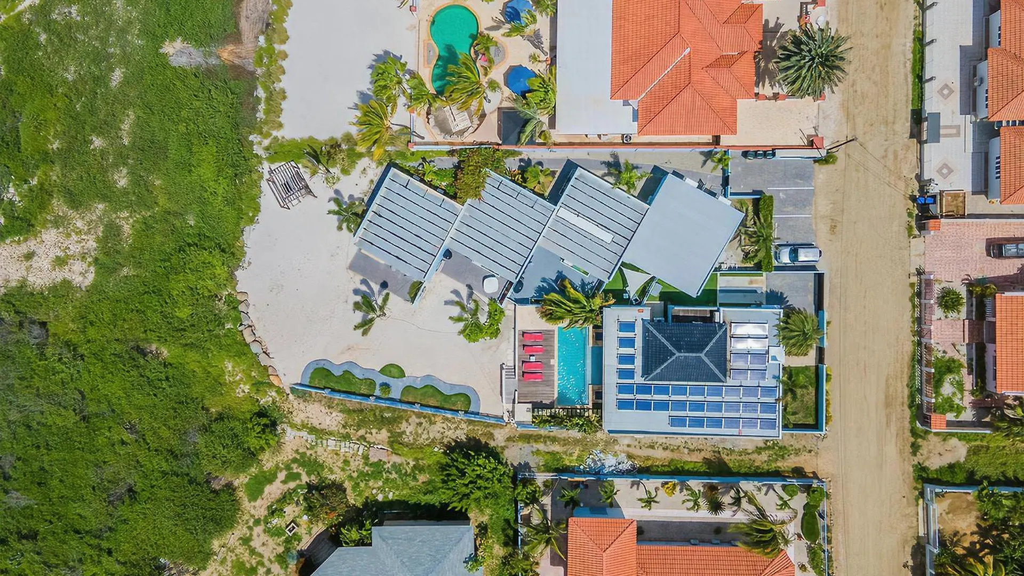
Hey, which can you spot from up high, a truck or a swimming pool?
swimming pool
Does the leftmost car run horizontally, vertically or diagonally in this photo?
horizontally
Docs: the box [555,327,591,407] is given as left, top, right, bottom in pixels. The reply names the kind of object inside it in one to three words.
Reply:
swimming pool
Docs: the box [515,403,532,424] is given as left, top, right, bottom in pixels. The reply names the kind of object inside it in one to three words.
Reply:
shed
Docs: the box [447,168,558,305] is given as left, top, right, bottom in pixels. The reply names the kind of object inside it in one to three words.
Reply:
house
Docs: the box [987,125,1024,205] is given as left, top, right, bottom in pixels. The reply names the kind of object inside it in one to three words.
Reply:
house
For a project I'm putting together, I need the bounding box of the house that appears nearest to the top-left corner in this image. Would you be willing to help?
[354,167,464,303]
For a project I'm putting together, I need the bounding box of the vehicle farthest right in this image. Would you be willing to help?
[984,236,1024,260]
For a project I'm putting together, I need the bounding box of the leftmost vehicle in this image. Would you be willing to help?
[772,243,822,267]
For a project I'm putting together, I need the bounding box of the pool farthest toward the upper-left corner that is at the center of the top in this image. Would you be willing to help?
[423,1,508,102]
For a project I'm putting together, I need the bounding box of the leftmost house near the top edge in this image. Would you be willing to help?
[556,0,764,136]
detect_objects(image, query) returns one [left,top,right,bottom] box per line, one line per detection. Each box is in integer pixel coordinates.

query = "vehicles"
[772,243,822,267]
[984,236,1024,260]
